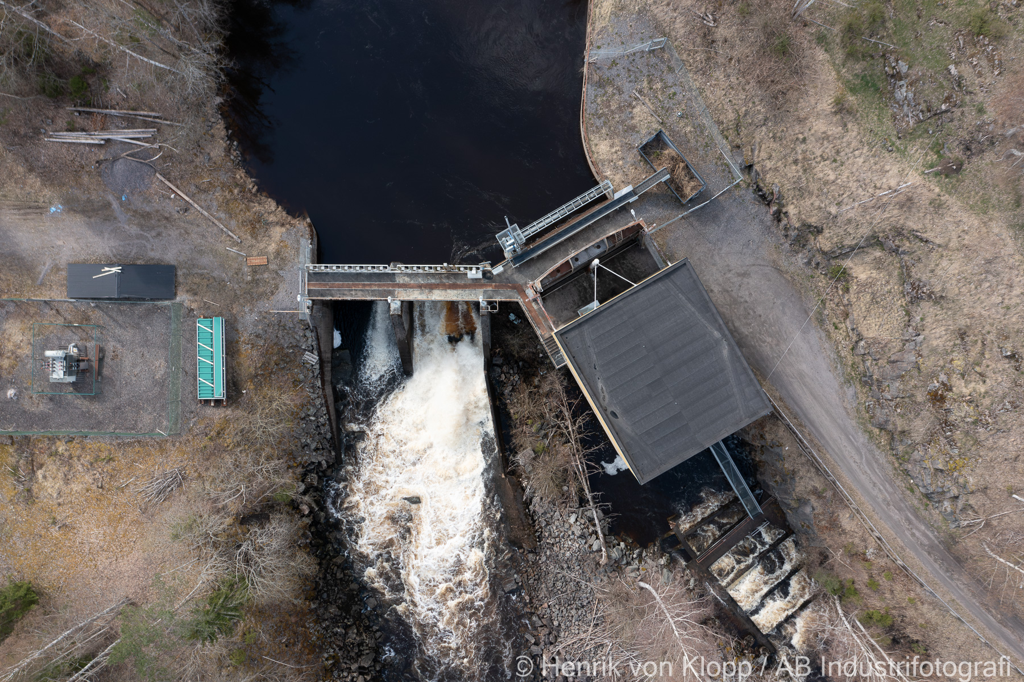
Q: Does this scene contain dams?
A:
Yes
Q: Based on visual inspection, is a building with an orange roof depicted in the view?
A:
No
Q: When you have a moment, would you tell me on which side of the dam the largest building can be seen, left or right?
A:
to the right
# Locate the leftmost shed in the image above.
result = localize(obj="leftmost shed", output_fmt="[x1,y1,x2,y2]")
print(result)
[68,263,176,299]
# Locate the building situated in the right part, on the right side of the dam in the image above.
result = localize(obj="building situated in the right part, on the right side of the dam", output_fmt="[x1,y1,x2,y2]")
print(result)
[552,258,773,484]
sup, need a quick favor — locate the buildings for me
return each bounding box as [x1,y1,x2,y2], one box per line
[68,263,176,299]
[552,258,773,484]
